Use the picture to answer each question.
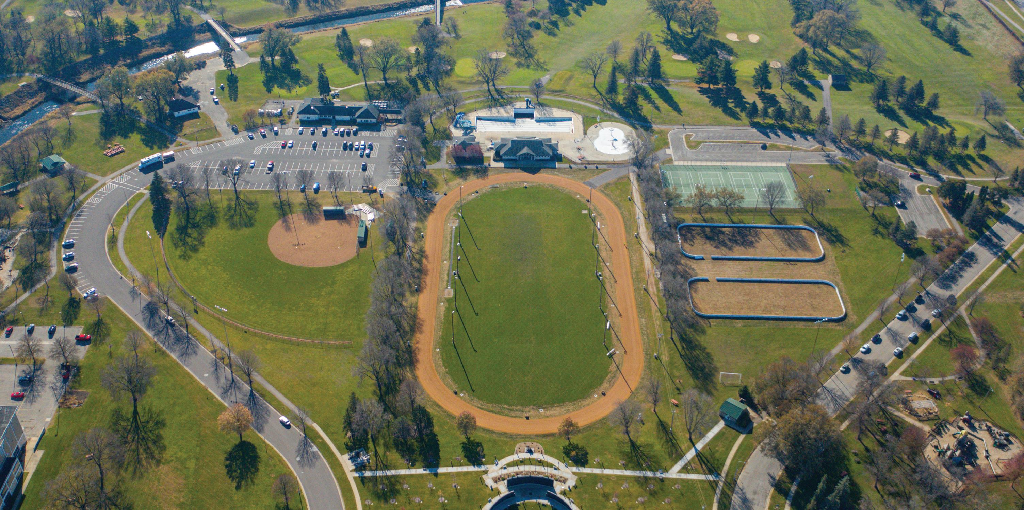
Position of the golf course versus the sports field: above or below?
above it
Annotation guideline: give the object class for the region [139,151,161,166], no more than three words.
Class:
camper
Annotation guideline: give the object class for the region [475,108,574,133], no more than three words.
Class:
swimming pool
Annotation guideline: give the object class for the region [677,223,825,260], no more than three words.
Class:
sports court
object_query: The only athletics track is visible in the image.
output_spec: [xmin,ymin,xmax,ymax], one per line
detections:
[414,172,644,434]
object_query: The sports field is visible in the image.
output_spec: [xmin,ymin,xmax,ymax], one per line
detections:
[440,185,612,407]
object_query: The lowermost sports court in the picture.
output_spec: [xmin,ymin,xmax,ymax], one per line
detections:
[688,277,847,320]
